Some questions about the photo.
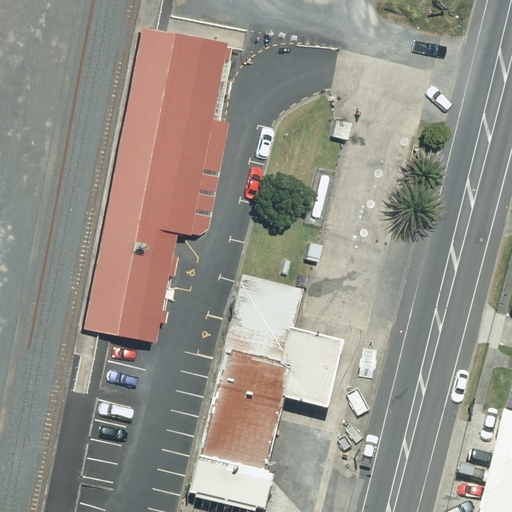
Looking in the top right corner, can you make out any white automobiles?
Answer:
Yes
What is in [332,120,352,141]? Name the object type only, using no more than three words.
shed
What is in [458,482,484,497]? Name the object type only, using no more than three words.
car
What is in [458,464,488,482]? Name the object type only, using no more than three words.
vehicle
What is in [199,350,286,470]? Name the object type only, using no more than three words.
building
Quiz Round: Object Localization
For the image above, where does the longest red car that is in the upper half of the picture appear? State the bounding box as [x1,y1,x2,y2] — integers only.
[246,166,263,200]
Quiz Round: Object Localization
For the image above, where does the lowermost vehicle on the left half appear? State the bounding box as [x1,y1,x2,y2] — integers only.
[98,425,128,442]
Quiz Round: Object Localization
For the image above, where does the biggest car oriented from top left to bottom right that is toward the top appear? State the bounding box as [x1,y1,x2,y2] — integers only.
[424,84,452,114]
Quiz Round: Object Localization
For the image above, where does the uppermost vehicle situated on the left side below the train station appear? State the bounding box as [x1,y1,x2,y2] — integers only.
[110,348,138,363]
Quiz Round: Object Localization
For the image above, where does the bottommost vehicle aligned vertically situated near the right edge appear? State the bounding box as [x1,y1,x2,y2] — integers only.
[480,408,497,441]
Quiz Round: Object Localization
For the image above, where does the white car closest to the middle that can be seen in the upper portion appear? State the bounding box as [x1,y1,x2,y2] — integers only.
[256,126,274,160]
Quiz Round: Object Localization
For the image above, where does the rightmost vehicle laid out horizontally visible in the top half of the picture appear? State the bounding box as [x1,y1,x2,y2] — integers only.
[410,40,448,58]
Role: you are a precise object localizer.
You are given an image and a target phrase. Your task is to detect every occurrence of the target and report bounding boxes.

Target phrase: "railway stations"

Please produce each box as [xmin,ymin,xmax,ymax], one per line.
[82,28,232,344]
